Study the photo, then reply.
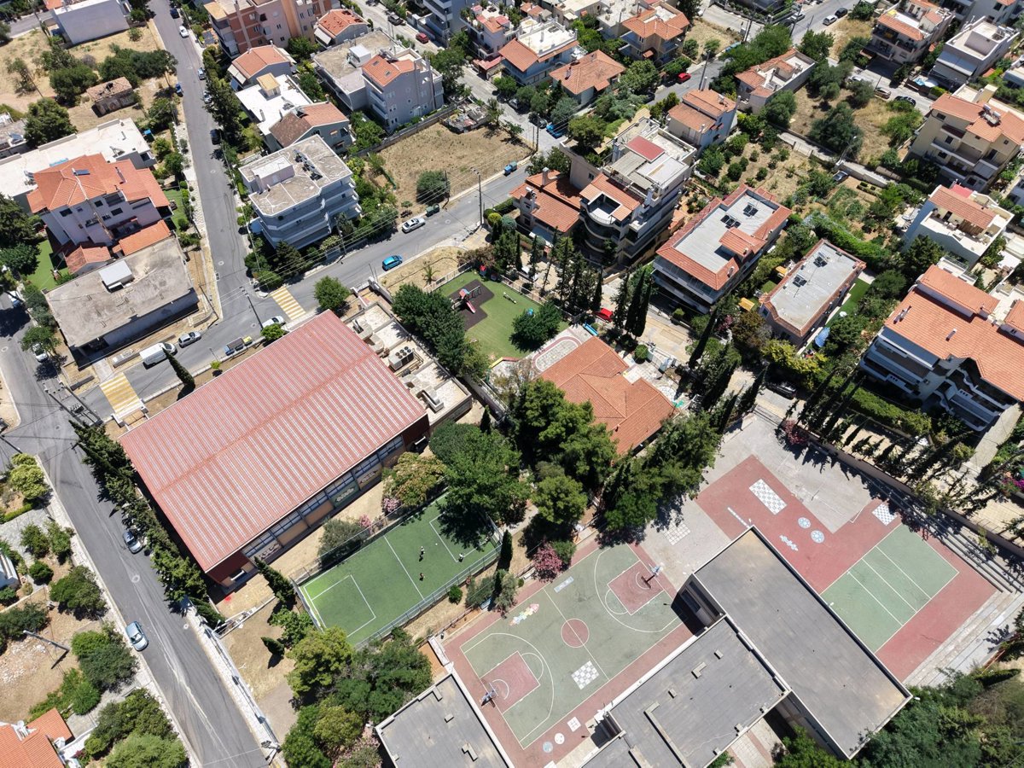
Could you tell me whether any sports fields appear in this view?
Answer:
Yes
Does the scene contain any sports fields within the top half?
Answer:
No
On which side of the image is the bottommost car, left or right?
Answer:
left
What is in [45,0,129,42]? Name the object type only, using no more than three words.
building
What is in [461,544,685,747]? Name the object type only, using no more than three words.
sports court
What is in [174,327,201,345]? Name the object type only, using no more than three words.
car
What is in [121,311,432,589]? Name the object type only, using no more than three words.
building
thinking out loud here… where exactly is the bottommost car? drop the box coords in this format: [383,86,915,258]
[122,620,145,648]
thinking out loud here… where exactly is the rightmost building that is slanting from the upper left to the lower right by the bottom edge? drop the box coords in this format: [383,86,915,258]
[681,519,920,767]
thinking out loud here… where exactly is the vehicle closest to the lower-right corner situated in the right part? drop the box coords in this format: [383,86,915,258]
[765,378,793,396]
